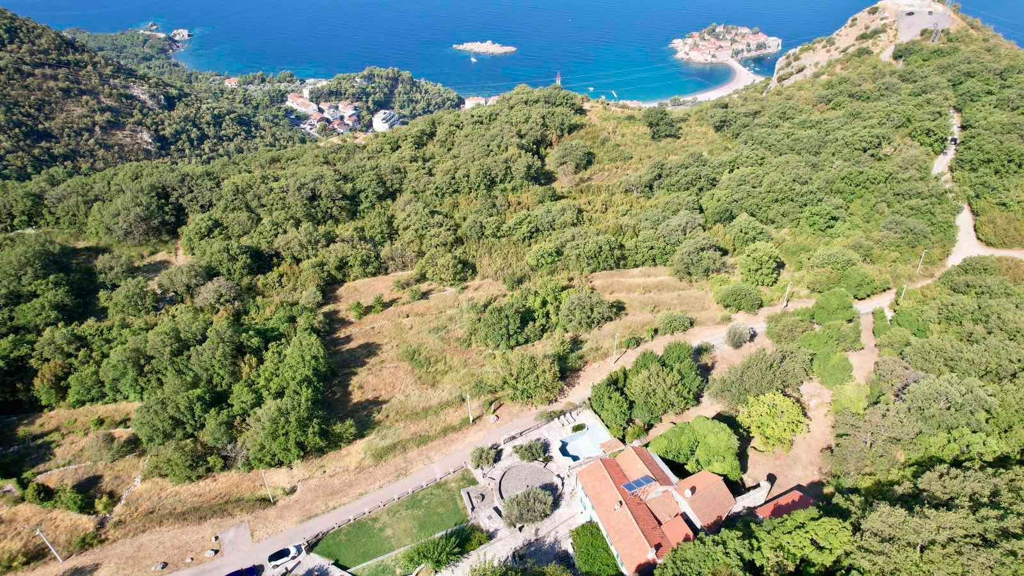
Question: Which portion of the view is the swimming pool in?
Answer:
bottom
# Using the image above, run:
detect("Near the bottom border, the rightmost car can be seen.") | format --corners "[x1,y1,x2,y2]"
[267,546,299,568]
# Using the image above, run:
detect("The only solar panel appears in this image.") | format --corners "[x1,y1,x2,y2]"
[621,475,656,499]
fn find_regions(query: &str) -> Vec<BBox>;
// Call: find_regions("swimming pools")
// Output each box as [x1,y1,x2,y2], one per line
[557,416,613,463]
